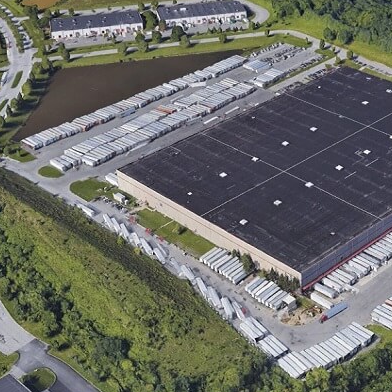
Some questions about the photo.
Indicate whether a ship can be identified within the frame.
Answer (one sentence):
No, I can see no ship in this picture.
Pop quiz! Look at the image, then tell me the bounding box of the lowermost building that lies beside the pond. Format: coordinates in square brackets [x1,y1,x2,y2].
[117,66,392,290]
